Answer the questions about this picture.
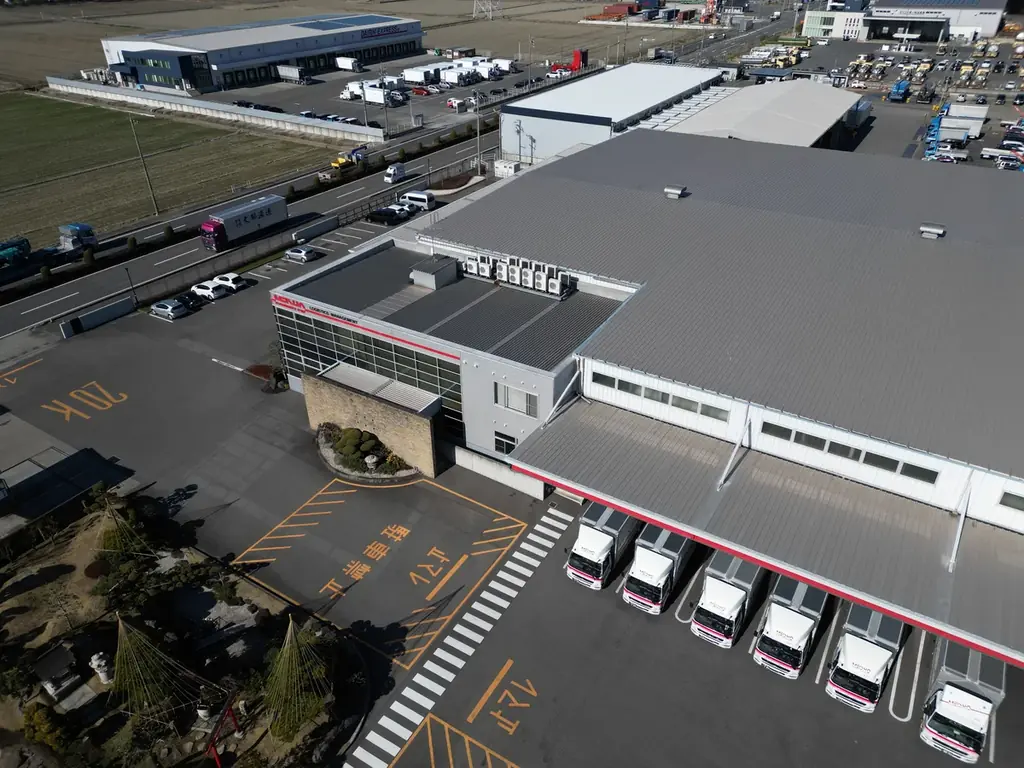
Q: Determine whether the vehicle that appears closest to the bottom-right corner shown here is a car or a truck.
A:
truck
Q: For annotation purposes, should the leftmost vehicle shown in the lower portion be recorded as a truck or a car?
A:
truck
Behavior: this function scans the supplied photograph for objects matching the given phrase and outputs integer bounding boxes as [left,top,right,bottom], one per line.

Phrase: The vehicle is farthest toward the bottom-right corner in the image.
[922,633,1004,764]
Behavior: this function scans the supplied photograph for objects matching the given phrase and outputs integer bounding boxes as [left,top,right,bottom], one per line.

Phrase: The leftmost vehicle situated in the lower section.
[563,503,642,590]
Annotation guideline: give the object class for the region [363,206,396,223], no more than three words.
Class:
car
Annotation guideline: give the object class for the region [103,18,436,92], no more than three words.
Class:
building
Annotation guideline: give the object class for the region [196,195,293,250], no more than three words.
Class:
truck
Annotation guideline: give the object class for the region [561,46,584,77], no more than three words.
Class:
work vehicle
